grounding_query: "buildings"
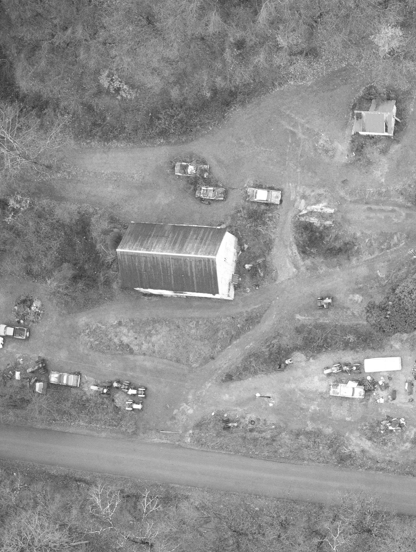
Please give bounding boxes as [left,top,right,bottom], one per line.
[353,99,400,138]
[116,223,251,298]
